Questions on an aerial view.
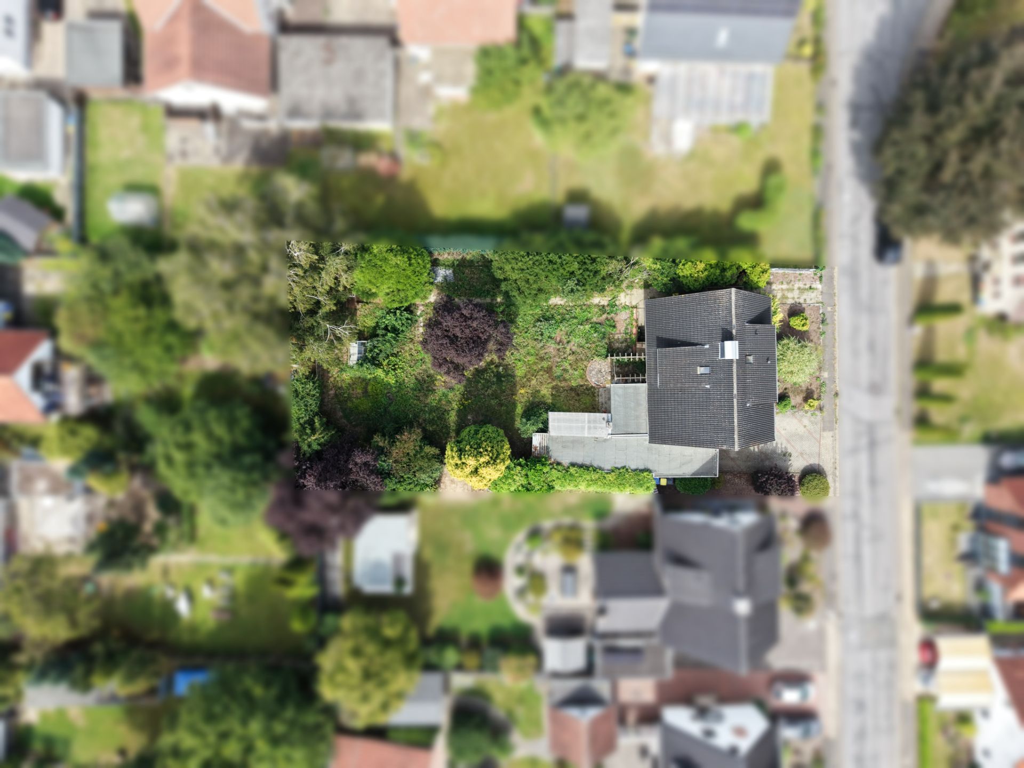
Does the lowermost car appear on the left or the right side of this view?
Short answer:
right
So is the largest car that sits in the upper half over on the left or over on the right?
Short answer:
right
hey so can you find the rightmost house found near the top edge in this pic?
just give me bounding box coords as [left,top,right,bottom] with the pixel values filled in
[635,0,791,79]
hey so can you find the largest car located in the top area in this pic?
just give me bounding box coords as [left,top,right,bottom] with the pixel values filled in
[873,219,900,271]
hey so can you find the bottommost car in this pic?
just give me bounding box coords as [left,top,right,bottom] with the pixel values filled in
[770,712,822,739]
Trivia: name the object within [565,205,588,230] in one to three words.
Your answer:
shed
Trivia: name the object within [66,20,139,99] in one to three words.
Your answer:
building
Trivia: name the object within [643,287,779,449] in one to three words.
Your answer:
house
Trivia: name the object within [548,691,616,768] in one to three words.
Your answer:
building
